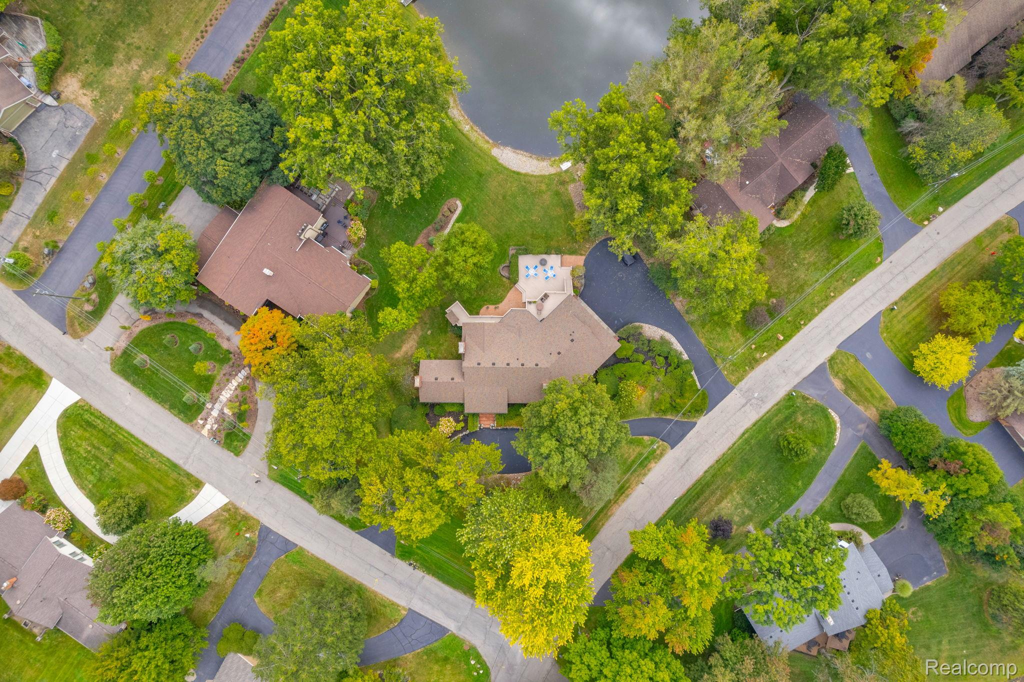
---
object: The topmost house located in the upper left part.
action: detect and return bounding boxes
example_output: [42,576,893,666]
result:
[0,49,46,133]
